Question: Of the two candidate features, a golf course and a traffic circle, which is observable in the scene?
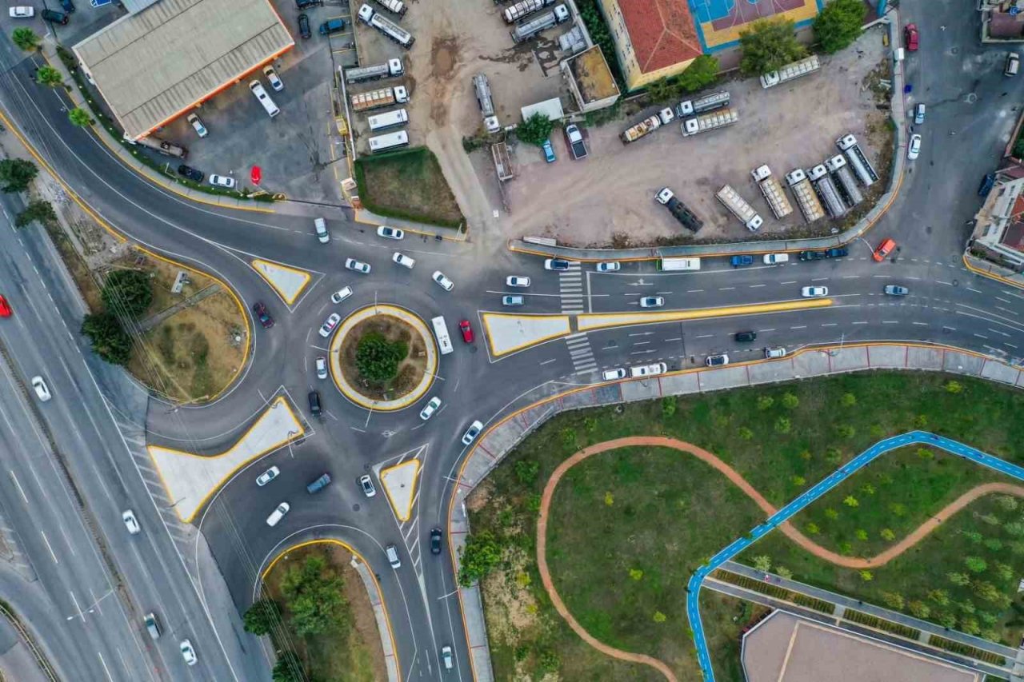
traffic circle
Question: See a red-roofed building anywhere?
Yes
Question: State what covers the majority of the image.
paved ground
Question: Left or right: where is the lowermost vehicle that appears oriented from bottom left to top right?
left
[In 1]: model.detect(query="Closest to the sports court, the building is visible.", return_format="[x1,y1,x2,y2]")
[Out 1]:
[606,0,702,90]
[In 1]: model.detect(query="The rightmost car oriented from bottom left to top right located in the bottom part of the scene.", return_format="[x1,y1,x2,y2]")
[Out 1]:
[459,419,484,447]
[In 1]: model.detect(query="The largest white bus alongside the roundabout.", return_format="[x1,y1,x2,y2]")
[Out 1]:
[431,316,456,356]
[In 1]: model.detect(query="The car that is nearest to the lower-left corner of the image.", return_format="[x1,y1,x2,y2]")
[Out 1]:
[142,612,165,642]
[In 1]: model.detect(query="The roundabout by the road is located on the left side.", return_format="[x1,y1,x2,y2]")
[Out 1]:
[328,302,438,412]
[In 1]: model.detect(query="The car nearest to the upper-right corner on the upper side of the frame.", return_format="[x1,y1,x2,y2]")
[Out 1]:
[1002,52,1021,78]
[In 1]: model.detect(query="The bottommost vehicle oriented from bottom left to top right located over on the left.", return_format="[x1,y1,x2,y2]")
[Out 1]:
[263,501,291,528]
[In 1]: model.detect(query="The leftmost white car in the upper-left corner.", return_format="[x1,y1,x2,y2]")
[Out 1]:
[10,5,36,19]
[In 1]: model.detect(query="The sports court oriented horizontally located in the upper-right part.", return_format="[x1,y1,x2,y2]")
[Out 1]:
[687,0,821,53]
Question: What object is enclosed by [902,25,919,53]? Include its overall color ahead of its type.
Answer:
red car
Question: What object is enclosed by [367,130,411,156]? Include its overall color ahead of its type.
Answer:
white bus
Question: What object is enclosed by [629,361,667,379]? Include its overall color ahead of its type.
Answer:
white vehicle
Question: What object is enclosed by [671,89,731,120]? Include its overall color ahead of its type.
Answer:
gray truck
